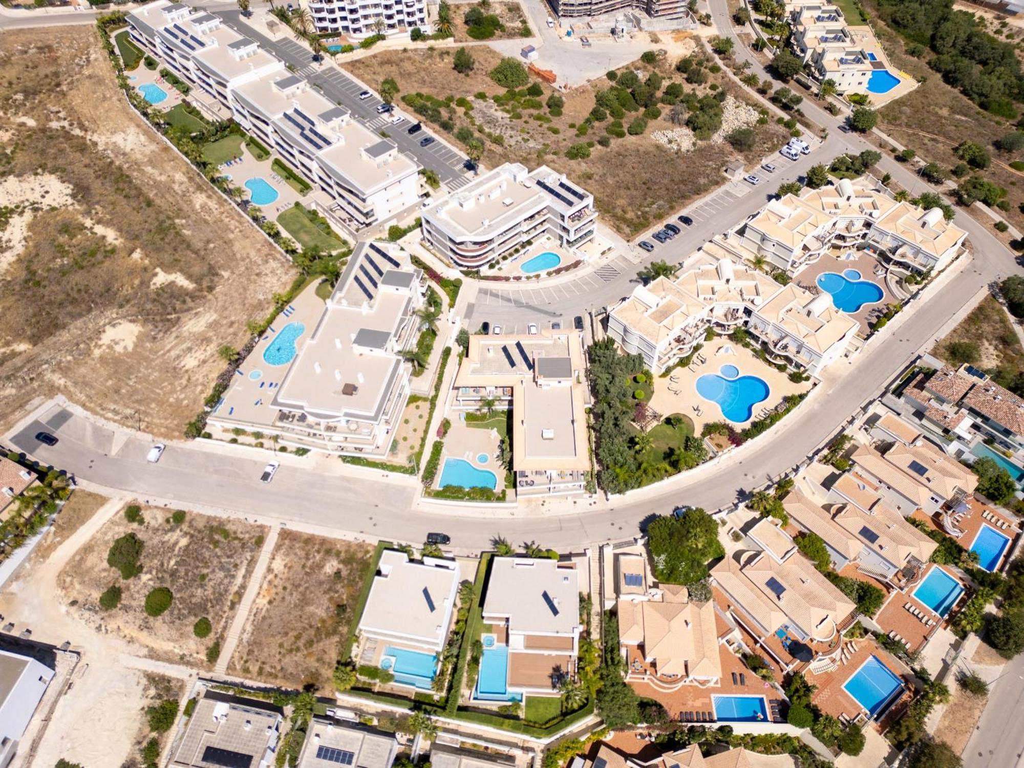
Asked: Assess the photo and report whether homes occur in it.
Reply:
Yes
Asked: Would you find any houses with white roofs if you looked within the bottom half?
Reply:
Yes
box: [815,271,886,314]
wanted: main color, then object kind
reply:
blue swimming pool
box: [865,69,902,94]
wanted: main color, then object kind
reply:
blue swimming pool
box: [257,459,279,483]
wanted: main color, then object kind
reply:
white truck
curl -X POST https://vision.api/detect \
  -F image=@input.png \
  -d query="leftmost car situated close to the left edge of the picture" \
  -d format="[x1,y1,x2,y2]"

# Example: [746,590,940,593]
[36,432,57,445]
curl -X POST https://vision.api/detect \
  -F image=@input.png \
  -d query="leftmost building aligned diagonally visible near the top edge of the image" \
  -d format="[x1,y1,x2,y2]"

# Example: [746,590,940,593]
[124,0,425,236]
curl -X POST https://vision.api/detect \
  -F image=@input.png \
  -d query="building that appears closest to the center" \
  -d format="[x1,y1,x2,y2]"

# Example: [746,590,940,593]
[454,331,590,495]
